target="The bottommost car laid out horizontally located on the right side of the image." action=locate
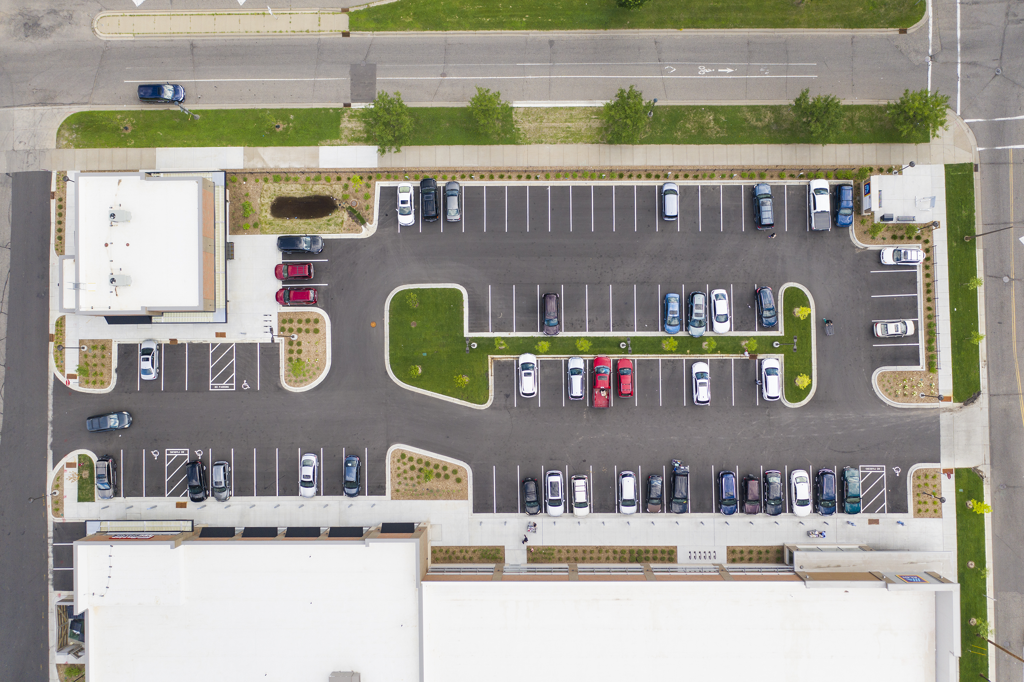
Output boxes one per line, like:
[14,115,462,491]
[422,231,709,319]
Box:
[872,318,914,339]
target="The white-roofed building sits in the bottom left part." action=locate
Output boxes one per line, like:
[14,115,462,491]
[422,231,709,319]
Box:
[77,520,432,682]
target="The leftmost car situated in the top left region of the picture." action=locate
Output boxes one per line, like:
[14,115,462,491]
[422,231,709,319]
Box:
[137,83,187,105]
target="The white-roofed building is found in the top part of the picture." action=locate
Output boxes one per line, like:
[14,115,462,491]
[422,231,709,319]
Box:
[59,171,228,324]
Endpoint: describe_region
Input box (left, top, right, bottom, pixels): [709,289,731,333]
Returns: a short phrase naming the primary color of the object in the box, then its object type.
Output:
white car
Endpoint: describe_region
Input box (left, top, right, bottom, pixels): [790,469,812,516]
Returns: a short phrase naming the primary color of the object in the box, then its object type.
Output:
white car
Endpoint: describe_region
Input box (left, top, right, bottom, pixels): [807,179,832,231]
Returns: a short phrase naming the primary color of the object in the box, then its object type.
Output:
white truck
